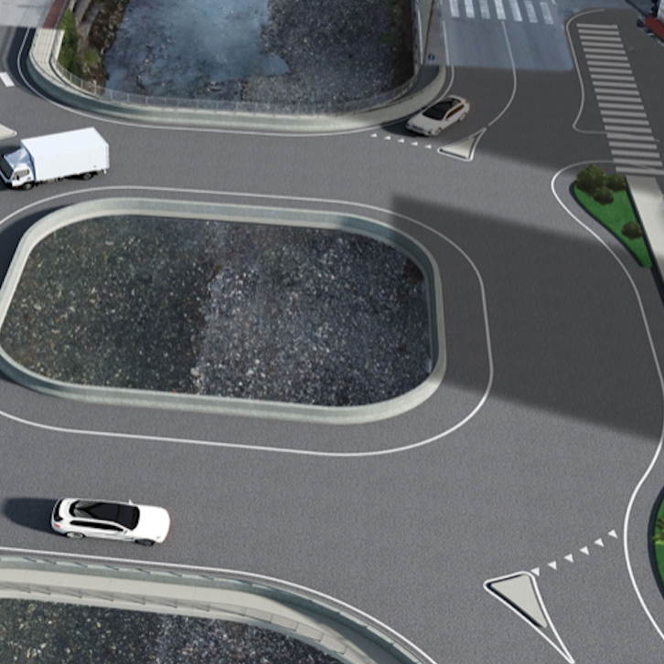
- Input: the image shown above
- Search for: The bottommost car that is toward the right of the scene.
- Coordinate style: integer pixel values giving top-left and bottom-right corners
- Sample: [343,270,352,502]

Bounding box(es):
[414,95,470,135]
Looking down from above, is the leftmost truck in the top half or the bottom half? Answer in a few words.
top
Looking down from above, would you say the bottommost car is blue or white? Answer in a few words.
white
